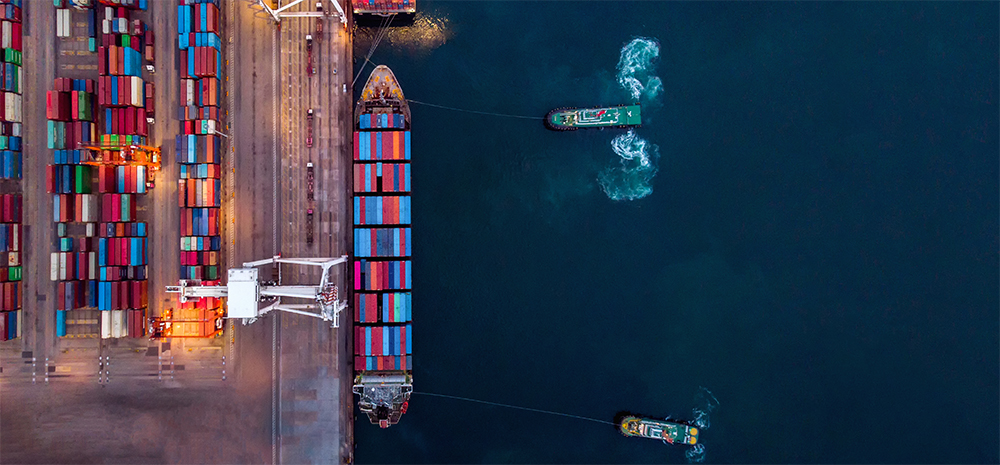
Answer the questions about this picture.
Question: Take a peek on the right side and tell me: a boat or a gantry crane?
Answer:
boat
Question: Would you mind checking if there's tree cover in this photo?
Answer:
No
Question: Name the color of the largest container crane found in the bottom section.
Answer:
white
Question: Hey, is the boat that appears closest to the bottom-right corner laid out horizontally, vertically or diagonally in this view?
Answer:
horizontally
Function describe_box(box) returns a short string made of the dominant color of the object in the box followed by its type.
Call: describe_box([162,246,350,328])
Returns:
white container crane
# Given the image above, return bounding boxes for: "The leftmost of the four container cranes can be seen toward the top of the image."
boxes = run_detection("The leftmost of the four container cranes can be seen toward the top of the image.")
[76,143,160,173]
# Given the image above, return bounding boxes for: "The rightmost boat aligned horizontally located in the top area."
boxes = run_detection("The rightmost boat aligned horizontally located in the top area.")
[544,103,641,131]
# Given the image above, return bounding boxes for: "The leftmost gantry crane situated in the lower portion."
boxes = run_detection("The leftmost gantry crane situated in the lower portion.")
[148,308,228,340]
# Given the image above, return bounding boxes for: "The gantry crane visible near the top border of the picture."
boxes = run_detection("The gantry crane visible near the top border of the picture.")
[261,0,350,33]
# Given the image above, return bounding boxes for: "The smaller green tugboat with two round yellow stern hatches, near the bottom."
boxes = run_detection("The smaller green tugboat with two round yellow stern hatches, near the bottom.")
[617,415,698,445]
